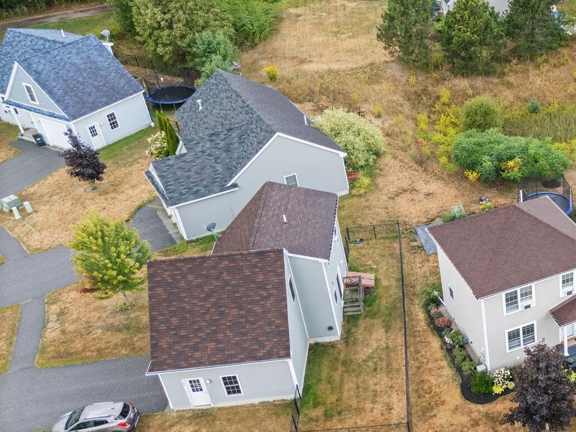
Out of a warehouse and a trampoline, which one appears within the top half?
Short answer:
trampoline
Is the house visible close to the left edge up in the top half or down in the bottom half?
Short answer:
top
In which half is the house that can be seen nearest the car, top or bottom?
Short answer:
bottom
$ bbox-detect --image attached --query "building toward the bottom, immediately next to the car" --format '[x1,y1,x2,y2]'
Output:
[145,181,347,411]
